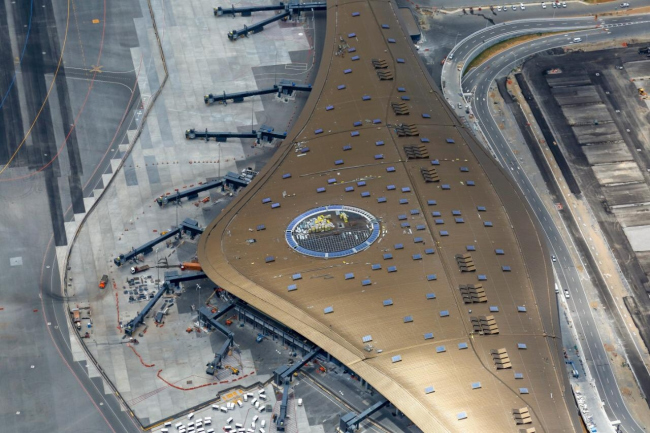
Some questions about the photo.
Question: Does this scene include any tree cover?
No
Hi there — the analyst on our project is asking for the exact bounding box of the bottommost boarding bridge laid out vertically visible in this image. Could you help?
[268,354,310,433]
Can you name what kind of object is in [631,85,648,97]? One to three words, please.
vehicle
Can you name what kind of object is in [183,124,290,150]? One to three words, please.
jet bridge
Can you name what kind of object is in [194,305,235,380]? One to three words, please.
jet bridge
